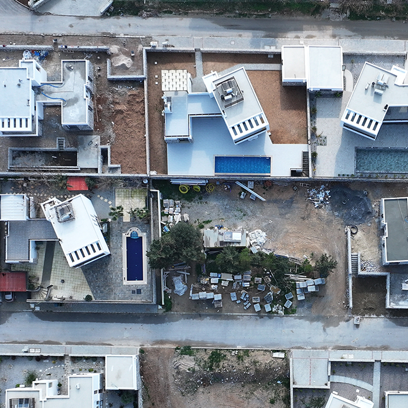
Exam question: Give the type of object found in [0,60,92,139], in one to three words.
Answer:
house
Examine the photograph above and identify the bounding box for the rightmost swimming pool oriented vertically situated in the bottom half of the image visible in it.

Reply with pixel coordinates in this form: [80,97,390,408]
[123,226,147,284]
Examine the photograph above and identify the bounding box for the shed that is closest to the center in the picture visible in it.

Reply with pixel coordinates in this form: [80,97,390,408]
[203,228,247,247]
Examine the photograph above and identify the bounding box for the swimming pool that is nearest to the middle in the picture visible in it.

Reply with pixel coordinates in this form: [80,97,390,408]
[214,152,273,175]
